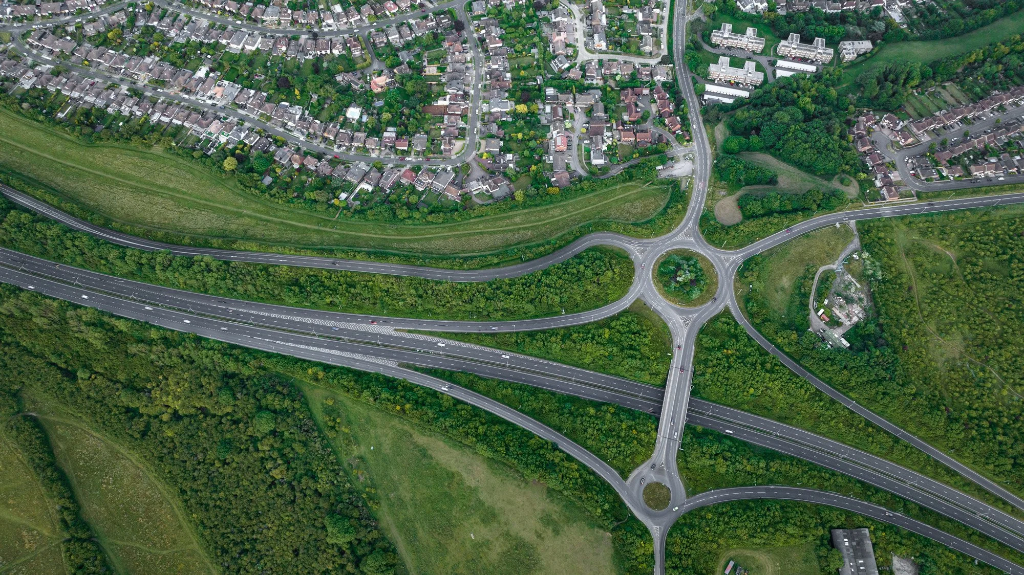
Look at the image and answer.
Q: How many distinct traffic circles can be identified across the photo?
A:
2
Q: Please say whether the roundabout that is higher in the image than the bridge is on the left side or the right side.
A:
right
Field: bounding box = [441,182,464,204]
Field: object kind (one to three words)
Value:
house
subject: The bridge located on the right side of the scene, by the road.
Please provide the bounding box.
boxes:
[656,345,694,448]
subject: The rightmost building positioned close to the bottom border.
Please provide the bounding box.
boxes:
[828,529,879,575]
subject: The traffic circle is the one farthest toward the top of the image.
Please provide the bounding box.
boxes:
[597,222,768,346]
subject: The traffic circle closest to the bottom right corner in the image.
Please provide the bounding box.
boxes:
[614,445,687,536]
